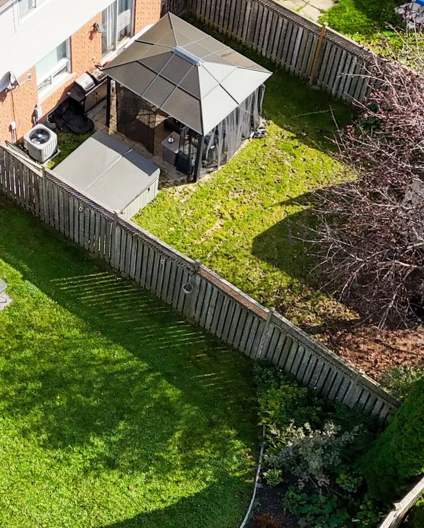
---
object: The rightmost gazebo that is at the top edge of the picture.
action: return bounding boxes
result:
[98,12,273,183]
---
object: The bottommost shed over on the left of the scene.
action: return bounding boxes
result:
[53,130,164,234]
